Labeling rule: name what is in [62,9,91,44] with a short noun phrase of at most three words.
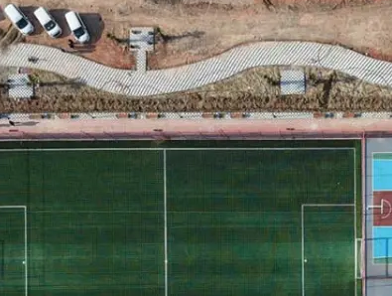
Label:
van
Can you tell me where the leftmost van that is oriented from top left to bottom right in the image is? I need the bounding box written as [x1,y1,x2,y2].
[2,1,35,35]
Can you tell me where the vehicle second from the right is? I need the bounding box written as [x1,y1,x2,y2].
[31,5,63,38]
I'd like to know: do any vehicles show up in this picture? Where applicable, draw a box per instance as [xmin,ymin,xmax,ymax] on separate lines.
[62,9,91,44]
[2,1,35,35]
[31,5,63,38]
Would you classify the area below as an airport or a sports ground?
sports ground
